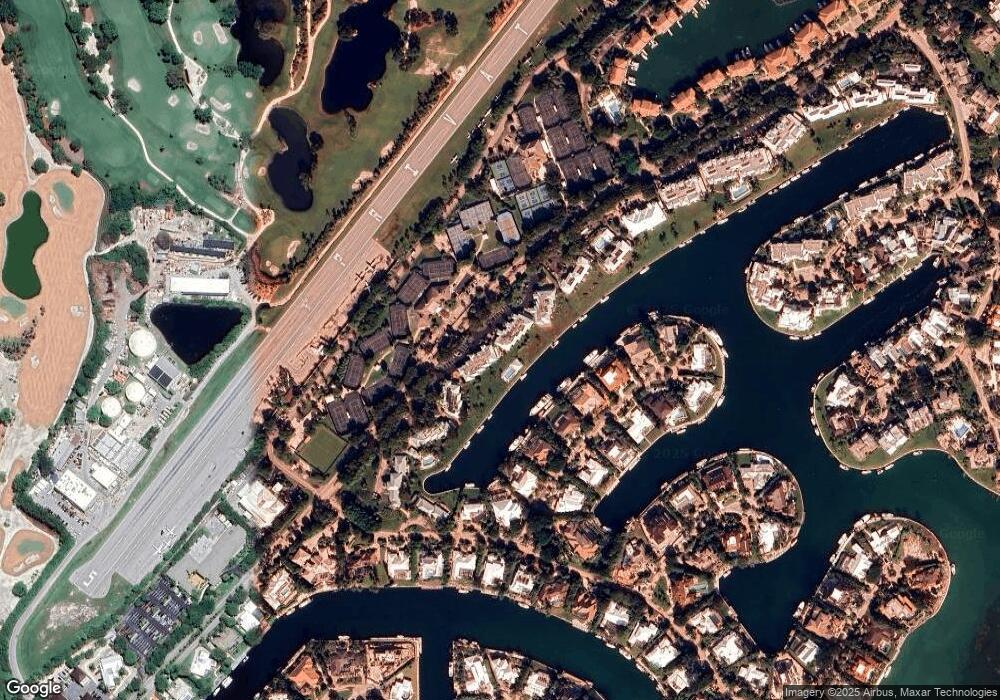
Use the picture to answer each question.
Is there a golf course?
Yes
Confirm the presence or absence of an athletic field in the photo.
Yes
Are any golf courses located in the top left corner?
Yes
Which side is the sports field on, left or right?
left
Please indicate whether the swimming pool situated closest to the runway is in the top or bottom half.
top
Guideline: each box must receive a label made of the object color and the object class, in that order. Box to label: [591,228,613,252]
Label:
white swimming pool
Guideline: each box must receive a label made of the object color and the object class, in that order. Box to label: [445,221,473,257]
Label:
gray sports court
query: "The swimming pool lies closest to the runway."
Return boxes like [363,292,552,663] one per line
[600,93,628,121]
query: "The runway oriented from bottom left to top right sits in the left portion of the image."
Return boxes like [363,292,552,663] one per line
[69,0,555,597]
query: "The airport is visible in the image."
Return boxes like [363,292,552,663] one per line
[69,0,555,597]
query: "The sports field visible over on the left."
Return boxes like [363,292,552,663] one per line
[297,425,347,473]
